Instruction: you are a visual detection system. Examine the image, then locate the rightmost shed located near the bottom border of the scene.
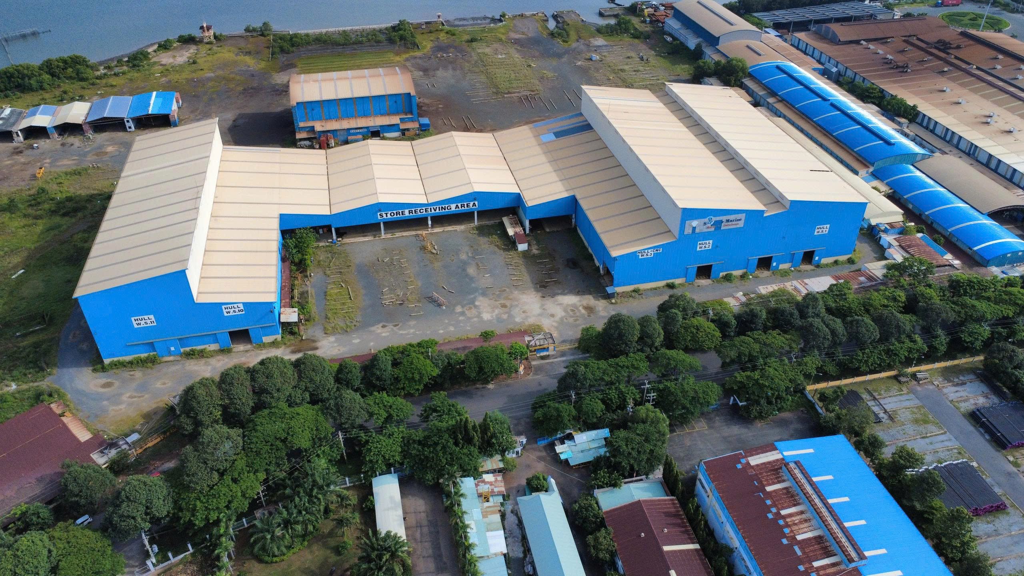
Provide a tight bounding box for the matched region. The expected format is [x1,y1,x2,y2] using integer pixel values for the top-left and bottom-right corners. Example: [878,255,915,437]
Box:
[695,435,954,576]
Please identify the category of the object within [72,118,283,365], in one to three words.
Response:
building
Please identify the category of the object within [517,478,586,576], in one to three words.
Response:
house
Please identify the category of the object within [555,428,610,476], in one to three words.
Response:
shed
